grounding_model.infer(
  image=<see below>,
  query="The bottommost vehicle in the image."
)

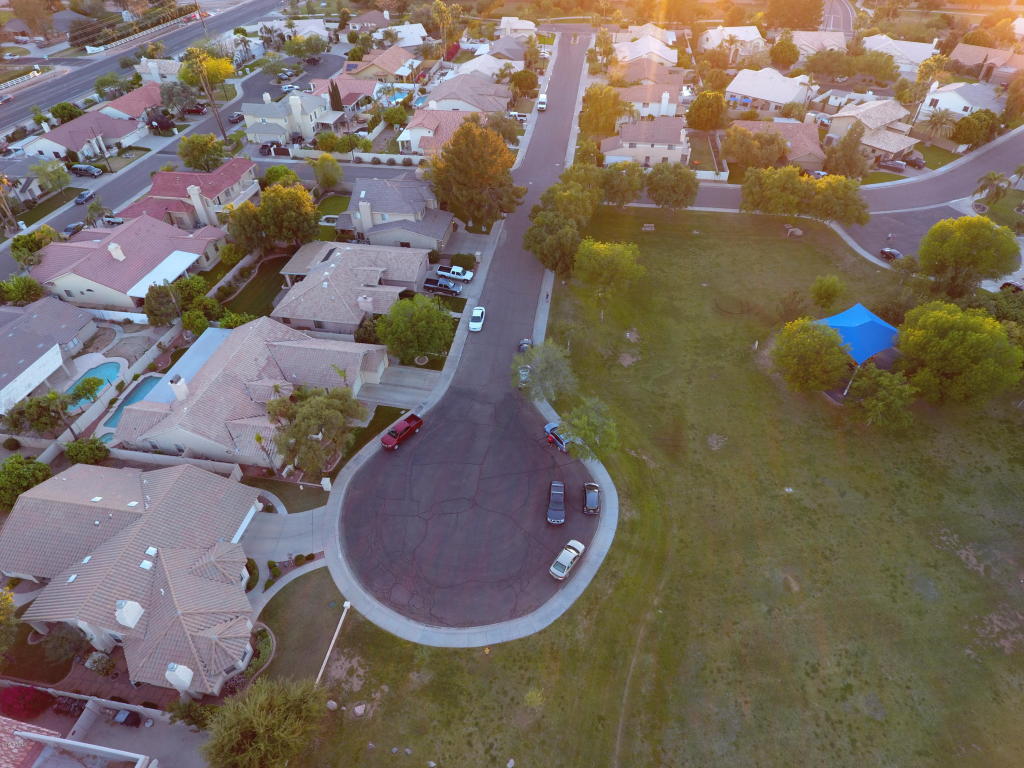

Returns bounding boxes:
[550,540,585,580]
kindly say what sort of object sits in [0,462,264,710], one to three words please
house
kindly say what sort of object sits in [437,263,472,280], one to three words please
vehicle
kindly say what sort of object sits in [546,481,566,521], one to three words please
car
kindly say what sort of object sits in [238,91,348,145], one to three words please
house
